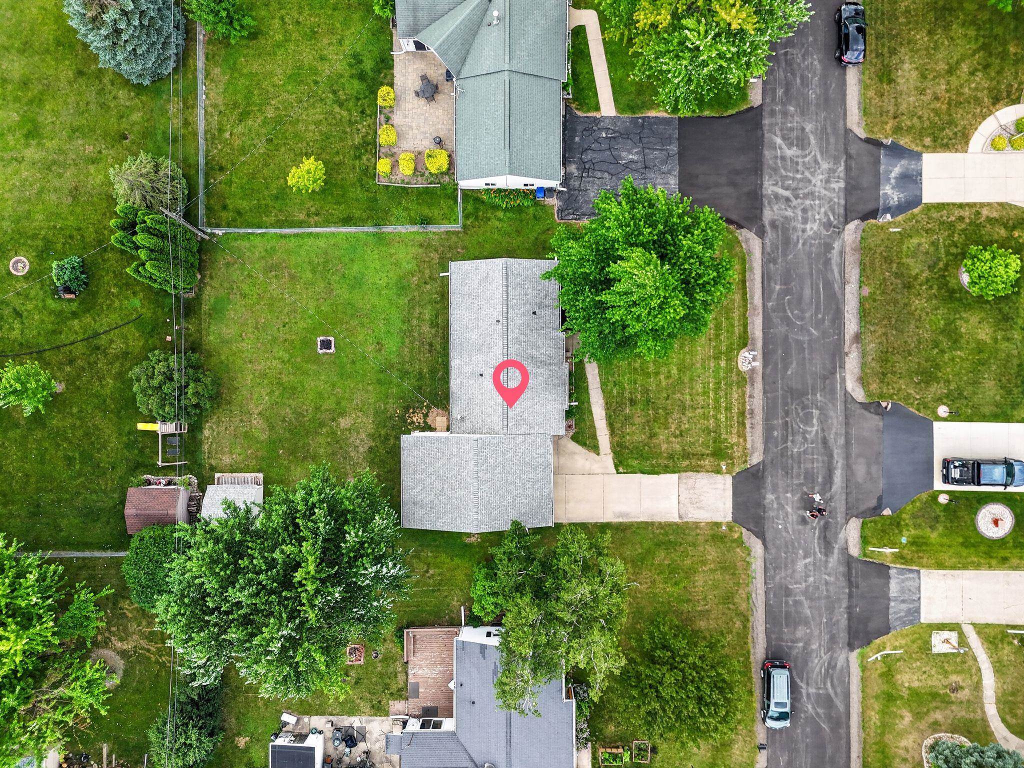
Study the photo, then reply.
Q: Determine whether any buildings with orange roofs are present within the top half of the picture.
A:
No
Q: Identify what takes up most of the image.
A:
grass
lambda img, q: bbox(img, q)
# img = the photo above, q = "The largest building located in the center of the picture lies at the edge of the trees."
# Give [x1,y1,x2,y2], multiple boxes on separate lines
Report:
[400,256,578,533]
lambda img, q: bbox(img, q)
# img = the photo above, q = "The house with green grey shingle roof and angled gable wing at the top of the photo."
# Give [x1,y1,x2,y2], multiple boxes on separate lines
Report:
[391,0,571,190]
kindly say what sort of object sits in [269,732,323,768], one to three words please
shed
